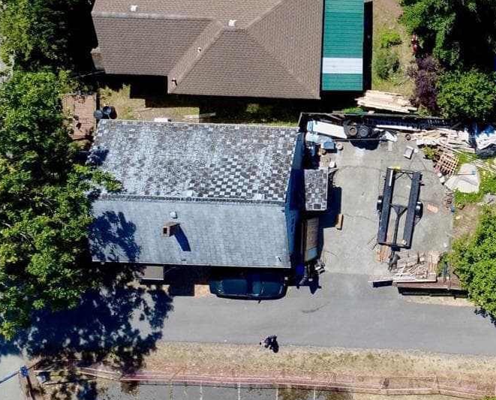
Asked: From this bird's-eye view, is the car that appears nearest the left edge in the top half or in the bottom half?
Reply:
bottom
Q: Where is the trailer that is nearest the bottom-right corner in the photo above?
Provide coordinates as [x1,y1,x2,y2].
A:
[375,168,423,269]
